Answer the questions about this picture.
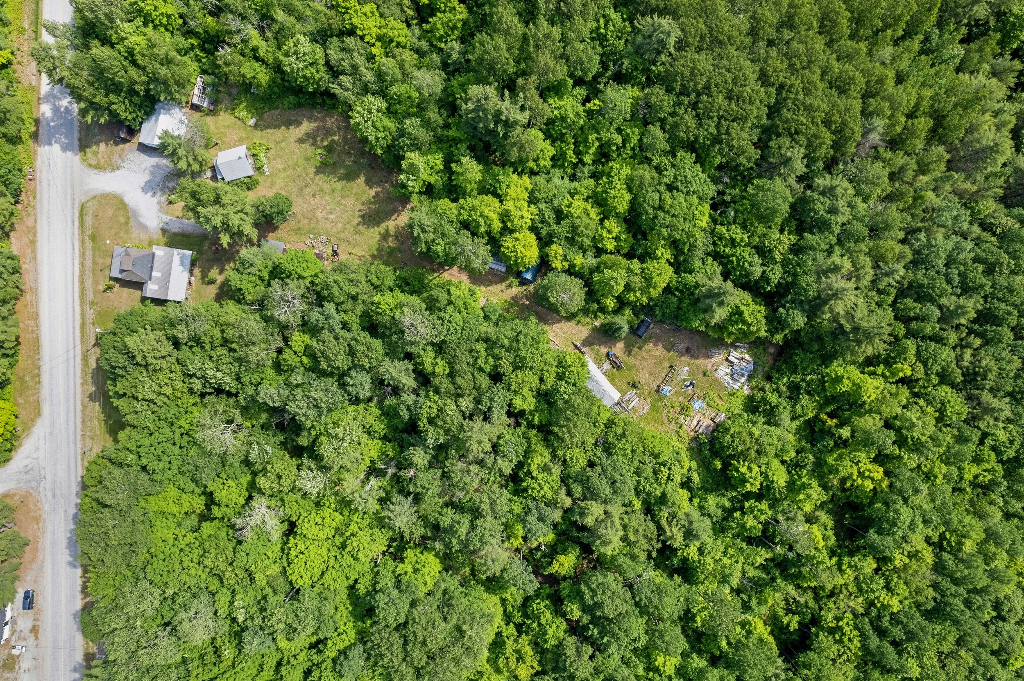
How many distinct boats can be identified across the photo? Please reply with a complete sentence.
I count no boats.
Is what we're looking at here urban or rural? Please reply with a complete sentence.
The area shown here is rural.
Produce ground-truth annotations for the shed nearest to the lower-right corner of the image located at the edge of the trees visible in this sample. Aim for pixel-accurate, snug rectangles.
[582,355,621,408]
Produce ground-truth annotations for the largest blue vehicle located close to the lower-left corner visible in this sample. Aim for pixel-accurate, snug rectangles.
[21,590,34,612]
